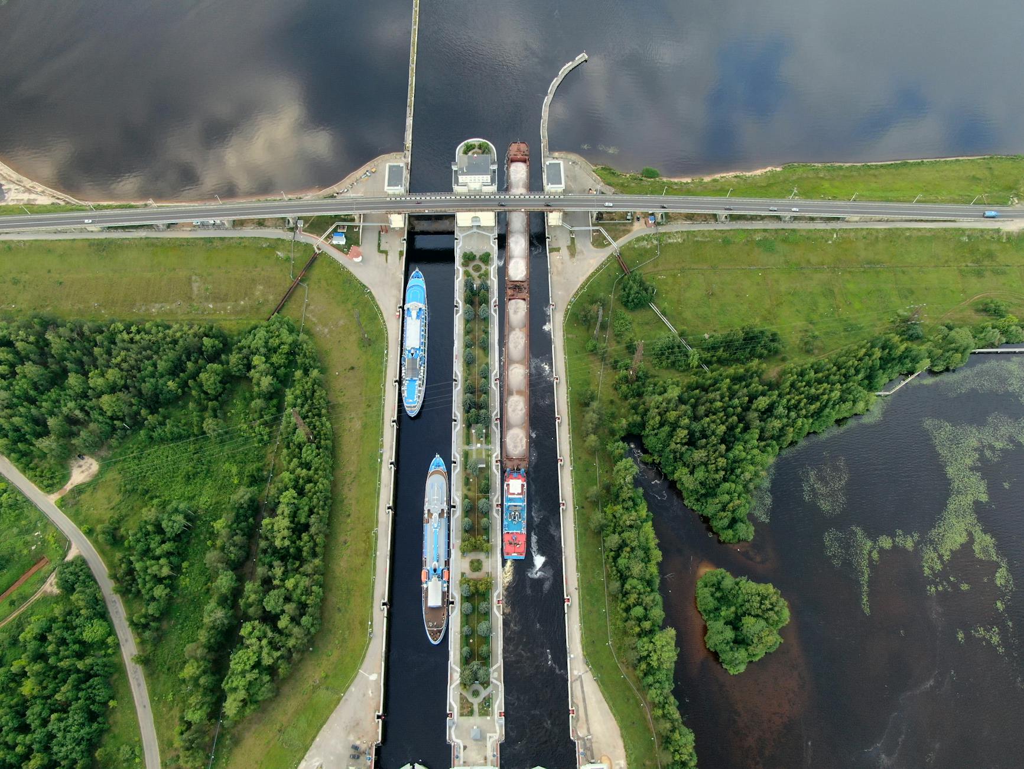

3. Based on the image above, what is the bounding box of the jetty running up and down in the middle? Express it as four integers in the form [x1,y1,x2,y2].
[447,138,505,769]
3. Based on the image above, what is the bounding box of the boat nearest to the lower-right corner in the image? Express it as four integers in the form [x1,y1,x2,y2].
[503,468,526,559]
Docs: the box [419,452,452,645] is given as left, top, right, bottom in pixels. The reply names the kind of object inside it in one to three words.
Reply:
ship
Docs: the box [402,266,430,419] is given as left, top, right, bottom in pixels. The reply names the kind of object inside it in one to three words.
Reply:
ship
